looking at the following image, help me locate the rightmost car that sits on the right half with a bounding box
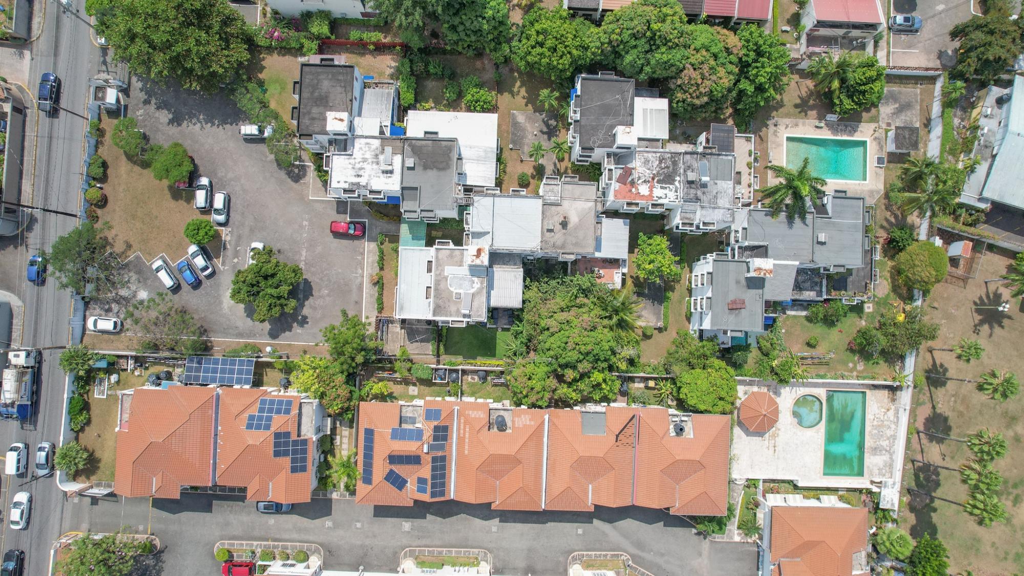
[886,15,922,33]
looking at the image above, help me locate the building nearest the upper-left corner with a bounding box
[0,91,30,120]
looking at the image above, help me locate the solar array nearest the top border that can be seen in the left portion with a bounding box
[184,356,261,385]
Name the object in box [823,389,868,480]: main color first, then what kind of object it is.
green swimming pool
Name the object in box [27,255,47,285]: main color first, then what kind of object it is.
blue car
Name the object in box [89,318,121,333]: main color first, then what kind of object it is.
white car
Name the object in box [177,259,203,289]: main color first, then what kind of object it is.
blue car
